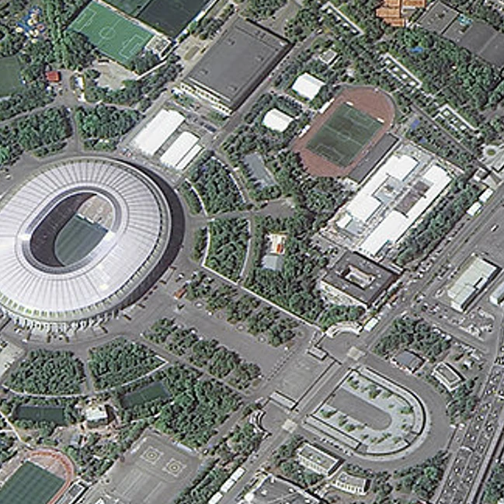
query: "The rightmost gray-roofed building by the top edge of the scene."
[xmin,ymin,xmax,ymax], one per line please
[459,19,504,72]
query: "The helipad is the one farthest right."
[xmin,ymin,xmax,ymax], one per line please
[163,457,186,476]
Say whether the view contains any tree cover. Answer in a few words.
Yes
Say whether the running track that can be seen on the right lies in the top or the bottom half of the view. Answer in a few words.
top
